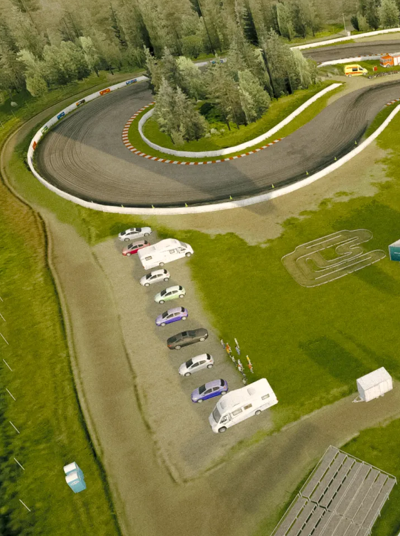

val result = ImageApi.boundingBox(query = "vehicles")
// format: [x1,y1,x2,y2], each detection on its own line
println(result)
[120,239,151,256]
[166,328,208,349]
[345,65,366,77]
[139,269,172,286]
[119,228,152,241]
[141,237,196,266]
[177,352,216,377]
[154,284,187,303]
[380,53,400,67]
[190,378,230,403]
[201,381,270,435]
[155,306,190,326]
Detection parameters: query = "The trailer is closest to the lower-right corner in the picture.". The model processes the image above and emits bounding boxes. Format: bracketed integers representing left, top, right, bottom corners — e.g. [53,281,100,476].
[351,366,394,404]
